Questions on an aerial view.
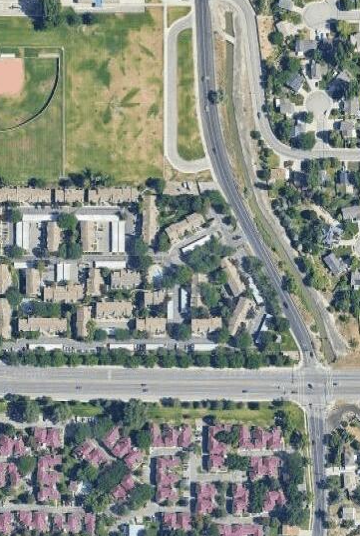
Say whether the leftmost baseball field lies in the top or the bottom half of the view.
top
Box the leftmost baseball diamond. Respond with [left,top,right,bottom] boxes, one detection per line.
[0,49,58,130]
